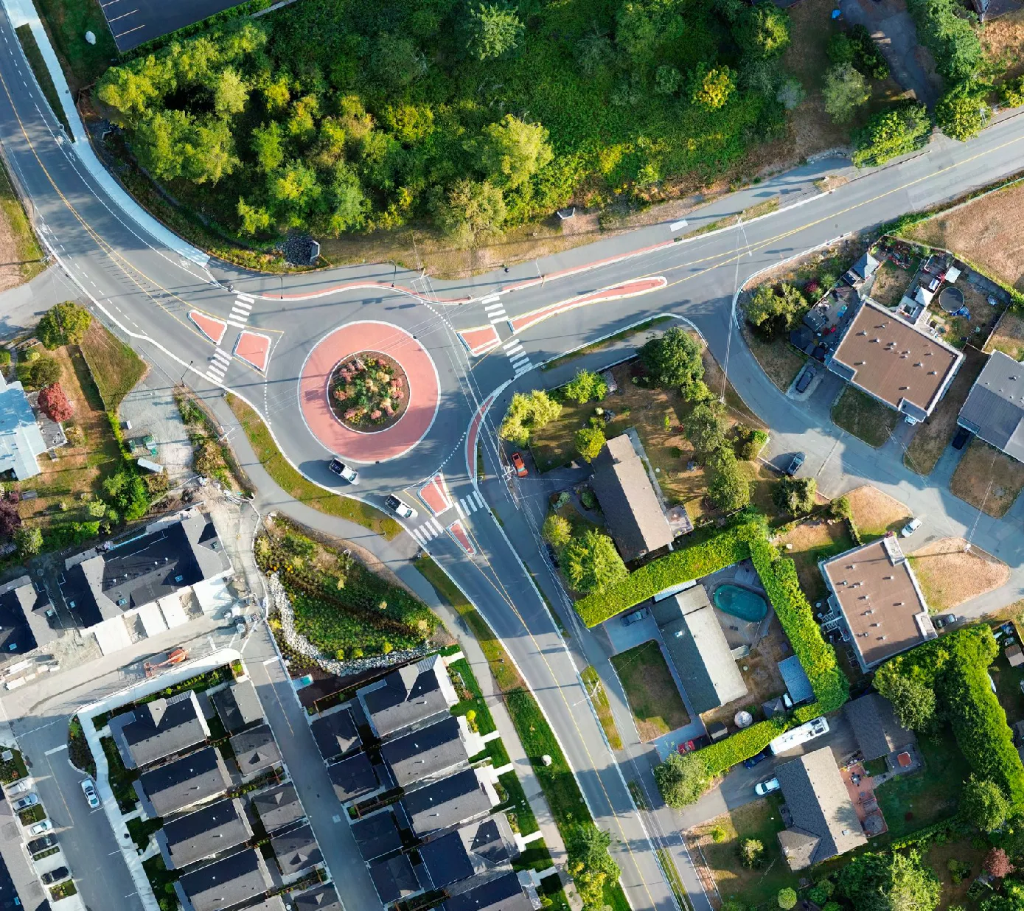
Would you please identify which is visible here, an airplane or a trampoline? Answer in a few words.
trampoline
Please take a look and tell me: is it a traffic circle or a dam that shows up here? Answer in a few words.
traffic circle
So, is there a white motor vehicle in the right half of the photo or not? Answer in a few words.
Yes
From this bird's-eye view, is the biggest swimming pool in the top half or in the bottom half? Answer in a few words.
bottom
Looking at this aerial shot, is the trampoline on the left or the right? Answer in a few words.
right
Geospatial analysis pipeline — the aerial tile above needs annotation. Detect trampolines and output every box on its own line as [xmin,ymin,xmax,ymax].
[939,286,966,312]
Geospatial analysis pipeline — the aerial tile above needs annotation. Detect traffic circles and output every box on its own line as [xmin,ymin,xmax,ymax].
[298,320,441,463]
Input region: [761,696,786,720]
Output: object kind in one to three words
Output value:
gazebo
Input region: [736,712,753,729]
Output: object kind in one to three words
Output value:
umbrella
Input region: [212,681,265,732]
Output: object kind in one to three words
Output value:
building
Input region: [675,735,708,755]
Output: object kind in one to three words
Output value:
vehicle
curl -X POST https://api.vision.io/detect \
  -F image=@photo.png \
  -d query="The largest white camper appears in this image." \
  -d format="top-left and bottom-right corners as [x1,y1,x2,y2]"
[771,717,832,757]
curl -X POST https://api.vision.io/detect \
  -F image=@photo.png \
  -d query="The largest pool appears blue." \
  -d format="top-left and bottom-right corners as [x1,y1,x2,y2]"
[712,584,769,622]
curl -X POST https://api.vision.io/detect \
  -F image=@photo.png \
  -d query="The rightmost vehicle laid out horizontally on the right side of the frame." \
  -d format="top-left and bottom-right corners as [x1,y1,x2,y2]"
[931,613,961,630]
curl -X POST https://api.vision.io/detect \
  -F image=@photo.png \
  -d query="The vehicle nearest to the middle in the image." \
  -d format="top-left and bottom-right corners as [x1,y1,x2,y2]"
[511,451,527,478]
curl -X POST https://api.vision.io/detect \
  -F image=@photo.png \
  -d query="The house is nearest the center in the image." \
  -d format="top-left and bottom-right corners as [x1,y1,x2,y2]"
[585,433,673,559]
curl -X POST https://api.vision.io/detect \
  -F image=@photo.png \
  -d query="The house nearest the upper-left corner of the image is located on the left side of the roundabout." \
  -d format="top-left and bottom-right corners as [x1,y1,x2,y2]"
[0,374,46,480]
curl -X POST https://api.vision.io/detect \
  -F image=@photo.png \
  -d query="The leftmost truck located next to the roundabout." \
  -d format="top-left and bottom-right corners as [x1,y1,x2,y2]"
[328,457,360,485]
